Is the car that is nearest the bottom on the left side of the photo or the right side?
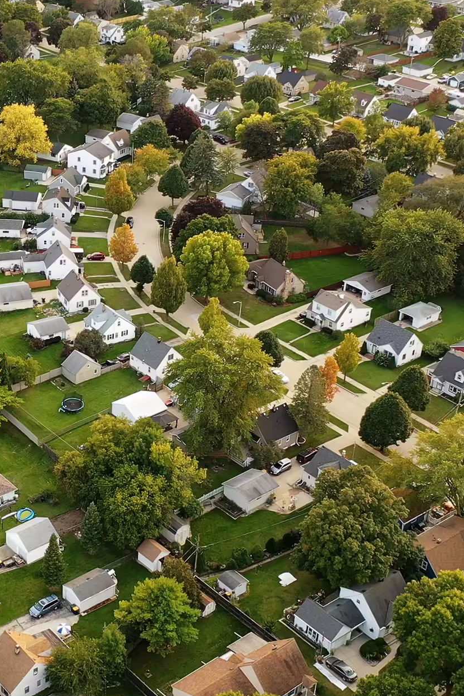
right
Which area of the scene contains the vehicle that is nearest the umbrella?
bottom left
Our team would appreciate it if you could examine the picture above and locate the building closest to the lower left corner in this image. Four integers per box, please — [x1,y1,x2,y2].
[0,623,58,696]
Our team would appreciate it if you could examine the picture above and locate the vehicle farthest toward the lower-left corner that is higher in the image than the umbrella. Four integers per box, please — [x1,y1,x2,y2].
[29,593,64,618]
